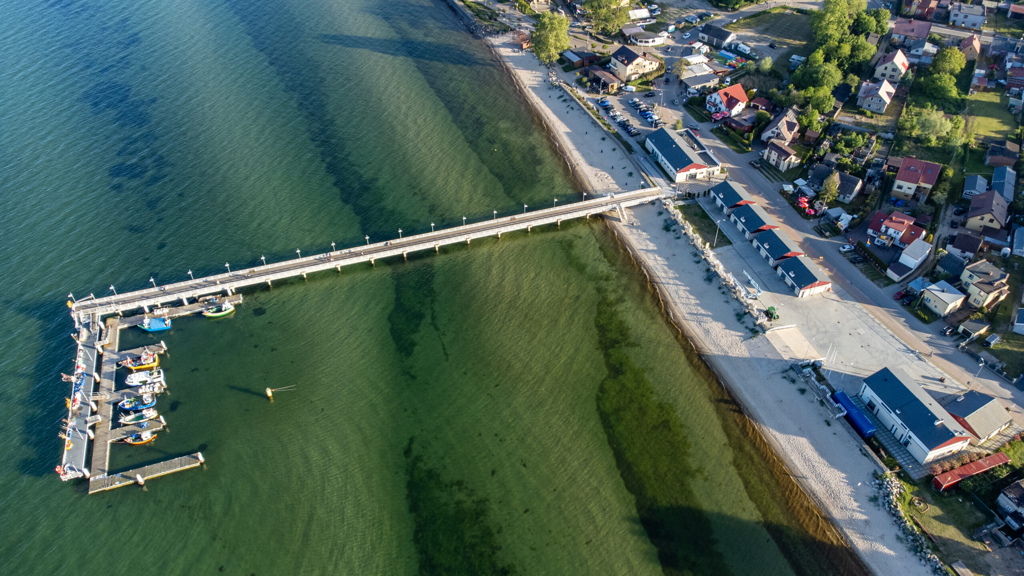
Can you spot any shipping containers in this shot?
Yes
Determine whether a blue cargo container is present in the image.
Yes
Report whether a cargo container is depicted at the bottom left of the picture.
No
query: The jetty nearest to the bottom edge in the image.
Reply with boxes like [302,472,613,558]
[89,452,200,495]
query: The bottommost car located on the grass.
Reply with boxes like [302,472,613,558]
[983,333,1001,346]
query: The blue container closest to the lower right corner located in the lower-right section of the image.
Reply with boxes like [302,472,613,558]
[847,410,876,438]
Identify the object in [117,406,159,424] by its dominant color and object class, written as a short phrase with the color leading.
white boat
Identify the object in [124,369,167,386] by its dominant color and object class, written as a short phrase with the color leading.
white boat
